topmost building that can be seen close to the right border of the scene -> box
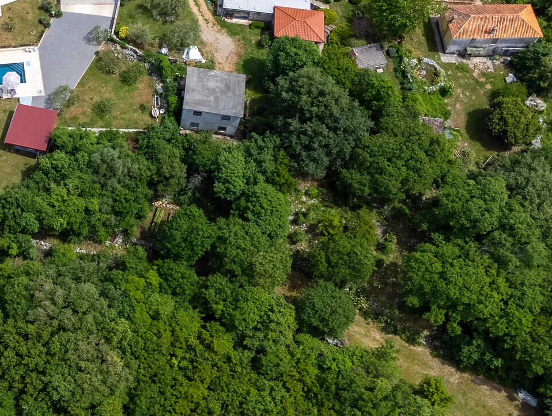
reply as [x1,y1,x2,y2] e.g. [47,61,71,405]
[430,3,544,65]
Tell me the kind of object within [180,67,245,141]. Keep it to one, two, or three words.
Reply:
house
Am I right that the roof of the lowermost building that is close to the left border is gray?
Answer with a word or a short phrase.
No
